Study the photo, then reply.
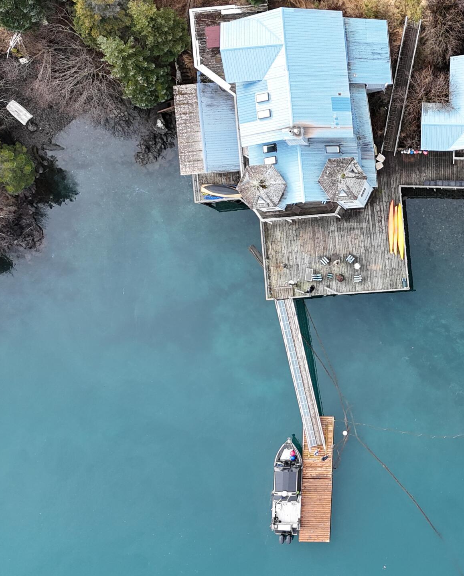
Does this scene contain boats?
Yes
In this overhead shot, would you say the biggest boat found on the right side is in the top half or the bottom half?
bottom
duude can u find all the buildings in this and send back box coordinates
[220,6,394,215]
[421,55,464,165]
